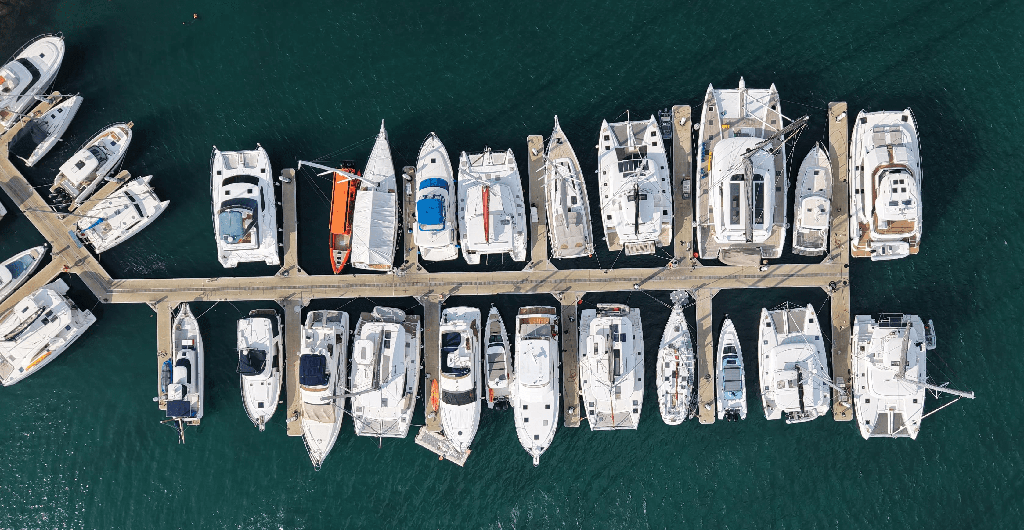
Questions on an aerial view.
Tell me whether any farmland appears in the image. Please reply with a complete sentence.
No, there is no farmland in the image.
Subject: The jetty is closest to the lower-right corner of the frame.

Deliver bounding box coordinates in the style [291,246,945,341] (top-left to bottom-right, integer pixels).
[820,287,852,421]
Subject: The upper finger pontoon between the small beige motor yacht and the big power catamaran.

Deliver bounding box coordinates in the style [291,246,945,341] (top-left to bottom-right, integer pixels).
[820,102,850,286]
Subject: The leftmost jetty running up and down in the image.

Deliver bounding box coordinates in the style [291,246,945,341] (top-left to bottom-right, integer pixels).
[146,301,182,410]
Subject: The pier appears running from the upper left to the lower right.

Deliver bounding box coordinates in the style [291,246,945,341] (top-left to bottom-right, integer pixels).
[0,148,115,303]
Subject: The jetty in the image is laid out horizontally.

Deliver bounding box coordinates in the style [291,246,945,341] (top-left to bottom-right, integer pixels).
[102,263,848,303]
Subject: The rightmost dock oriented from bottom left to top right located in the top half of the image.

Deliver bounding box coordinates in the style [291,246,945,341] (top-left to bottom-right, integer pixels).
[63,170,132,230]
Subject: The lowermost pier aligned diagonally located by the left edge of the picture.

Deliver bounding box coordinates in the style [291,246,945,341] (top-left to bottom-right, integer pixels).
[0,247,76,317]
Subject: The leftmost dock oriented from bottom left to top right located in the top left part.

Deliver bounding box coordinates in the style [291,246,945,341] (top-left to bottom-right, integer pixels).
[0,91,64,158]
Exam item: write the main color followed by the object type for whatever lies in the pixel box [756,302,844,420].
white boat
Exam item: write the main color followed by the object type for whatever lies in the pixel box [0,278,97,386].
white boat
